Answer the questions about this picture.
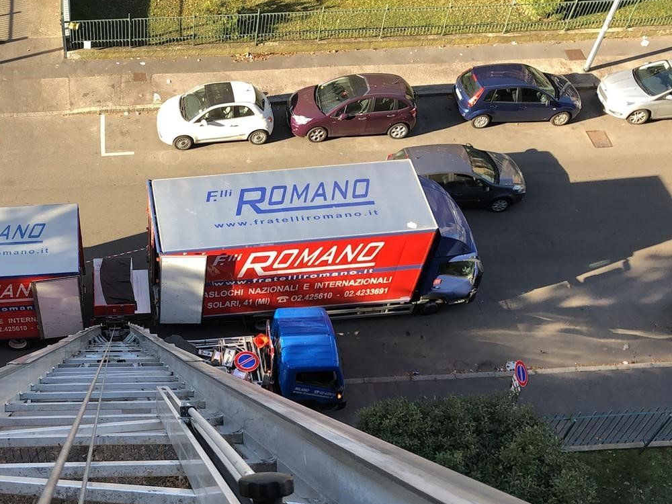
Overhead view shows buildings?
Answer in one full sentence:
No, the picture doesn't show any building.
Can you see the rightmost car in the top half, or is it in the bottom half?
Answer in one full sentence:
The top half of the photo is where the rightmost car is.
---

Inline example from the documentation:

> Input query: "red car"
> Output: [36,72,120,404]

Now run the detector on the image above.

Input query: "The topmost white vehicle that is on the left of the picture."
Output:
[155,80,276,150]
